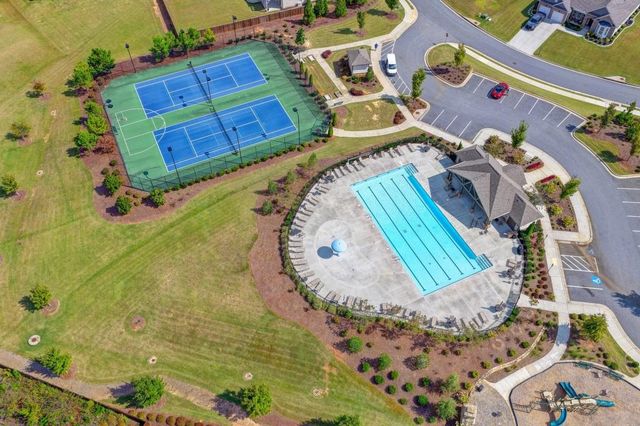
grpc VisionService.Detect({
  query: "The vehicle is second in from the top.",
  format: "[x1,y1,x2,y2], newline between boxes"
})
[386,52,399,74]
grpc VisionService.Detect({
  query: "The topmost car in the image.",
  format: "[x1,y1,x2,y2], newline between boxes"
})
[528,12,544,28]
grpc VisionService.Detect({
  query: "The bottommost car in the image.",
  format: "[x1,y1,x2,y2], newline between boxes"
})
[490,82,509,99]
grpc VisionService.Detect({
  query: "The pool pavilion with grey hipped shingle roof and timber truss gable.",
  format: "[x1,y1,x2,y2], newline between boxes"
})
[444,143,544,237]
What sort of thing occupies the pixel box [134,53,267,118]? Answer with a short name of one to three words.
tennis court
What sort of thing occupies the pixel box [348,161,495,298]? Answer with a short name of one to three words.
swimming pool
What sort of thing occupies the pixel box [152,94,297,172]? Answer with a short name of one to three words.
tennis court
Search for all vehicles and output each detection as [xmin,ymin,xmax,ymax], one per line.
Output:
[490,82,509,99]
[386,52,399,74]
[528,12,544,28]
